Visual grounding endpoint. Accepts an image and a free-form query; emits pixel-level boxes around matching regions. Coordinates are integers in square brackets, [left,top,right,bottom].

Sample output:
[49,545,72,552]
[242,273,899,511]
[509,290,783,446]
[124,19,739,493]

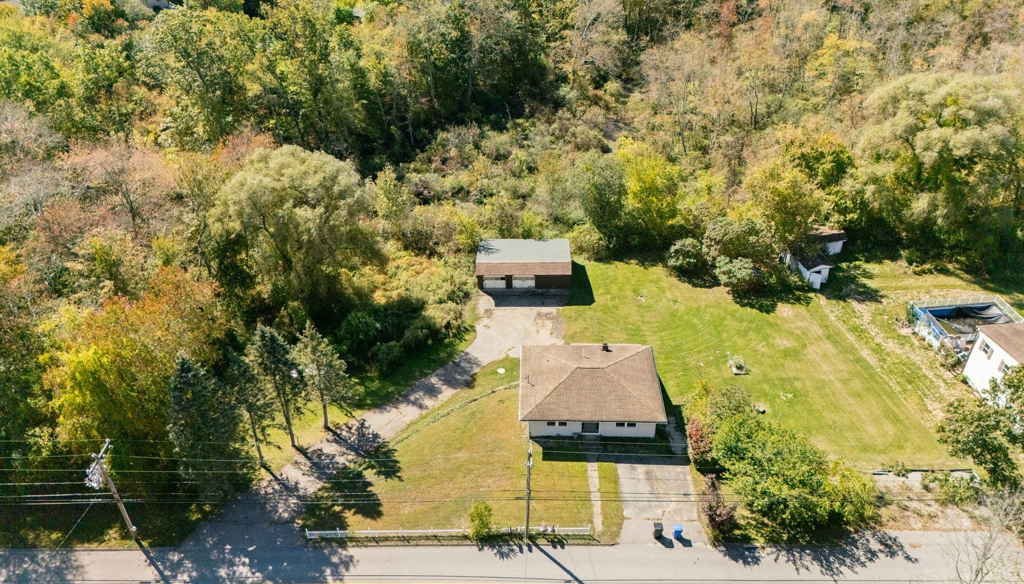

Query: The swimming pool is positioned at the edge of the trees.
[899,294,1018,372]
